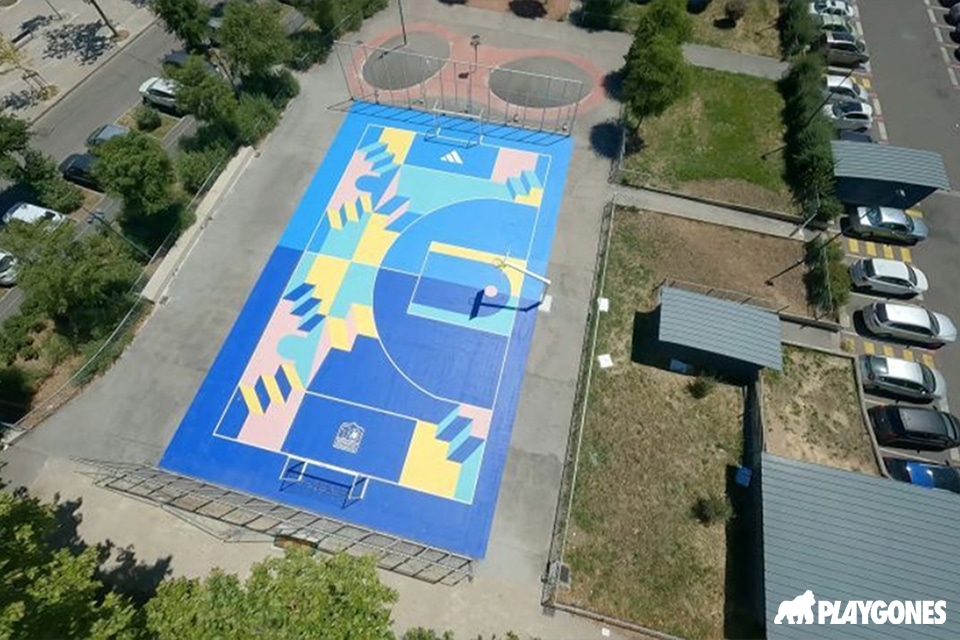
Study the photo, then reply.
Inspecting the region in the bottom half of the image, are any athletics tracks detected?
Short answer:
No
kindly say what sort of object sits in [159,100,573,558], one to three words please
sports court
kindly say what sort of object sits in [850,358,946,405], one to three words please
car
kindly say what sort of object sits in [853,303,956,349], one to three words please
car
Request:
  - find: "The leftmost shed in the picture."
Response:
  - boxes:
[649,287,782,375]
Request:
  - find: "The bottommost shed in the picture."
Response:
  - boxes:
[757,456,960,640]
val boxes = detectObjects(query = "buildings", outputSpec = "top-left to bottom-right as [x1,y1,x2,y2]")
[818,138,952,213]
[757,456,960,640]
[649,287,782,375]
